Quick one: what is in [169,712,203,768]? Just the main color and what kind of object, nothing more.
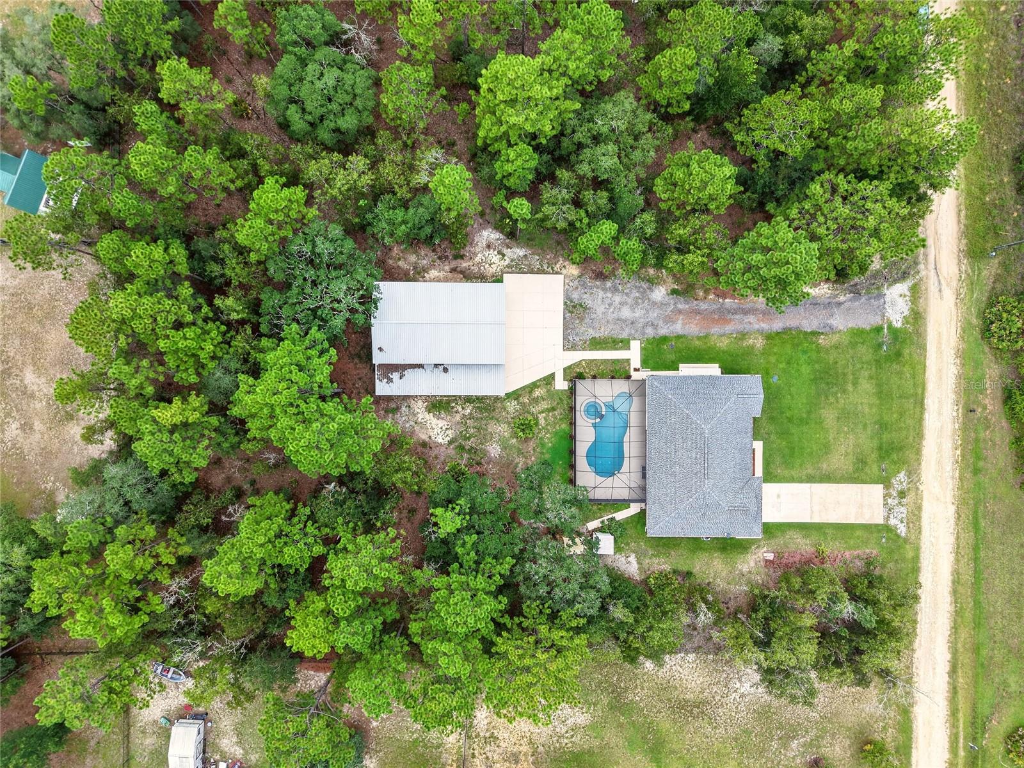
white trailer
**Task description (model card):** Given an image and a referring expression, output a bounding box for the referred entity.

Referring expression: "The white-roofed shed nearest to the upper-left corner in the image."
[371,281,506,395]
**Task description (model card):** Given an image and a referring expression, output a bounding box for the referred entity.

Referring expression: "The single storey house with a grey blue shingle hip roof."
[645,375,766,538]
